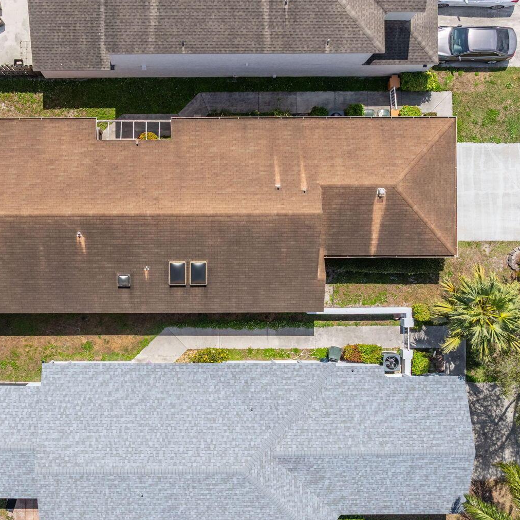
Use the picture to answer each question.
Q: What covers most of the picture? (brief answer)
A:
buildings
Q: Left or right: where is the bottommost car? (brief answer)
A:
right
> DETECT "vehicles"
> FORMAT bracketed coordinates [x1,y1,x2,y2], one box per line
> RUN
[437,0,517,8]
[437,21,516,63]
